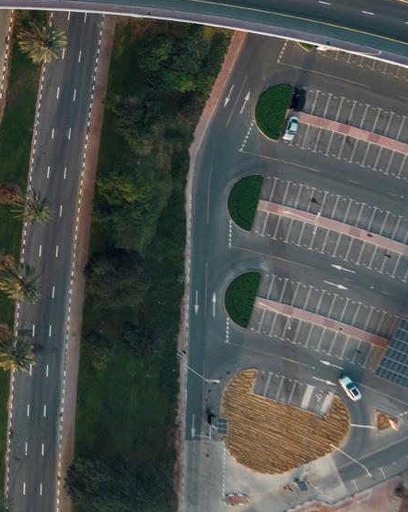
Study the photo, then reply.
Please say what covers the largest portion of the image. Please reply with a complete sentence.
The largest share of the image is taken up by paved ground.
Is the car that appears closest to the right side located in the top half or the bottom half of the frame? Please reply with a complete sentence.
The car that appears closest to the right side sits in the bottom half of the picture.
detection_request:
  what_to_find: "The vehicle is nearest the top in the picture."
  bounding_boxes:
[293,88,308,111]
